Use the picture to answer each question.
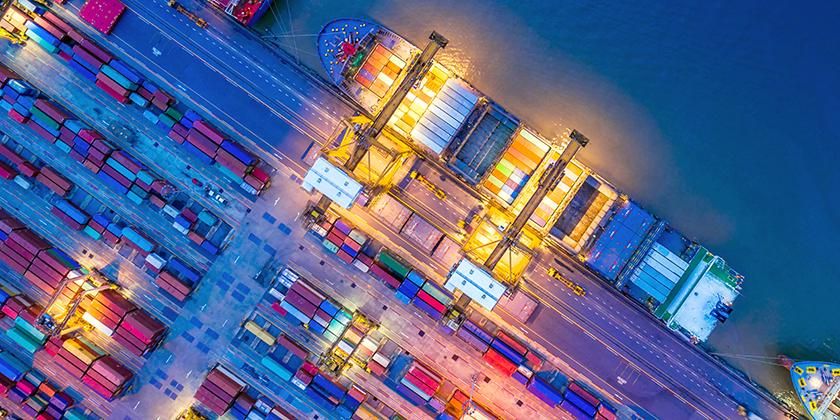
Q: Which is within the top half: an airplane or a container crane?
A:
container crane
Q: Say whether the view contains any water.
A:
Yes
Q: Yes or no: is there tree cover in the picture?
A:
No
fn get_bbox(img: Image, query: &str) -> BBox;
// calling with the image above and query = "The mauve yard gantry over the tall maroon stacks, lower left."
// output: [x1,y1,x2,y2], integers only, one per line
[35,262,123,332]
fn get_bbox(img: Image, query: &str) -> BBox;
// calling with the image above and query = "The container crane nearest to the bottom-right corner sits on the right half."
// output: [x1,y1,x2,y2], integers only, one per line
[439,129,590,331]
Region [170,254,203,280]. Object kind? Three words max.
shipping container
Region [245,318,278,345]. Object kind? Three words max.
shipping container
